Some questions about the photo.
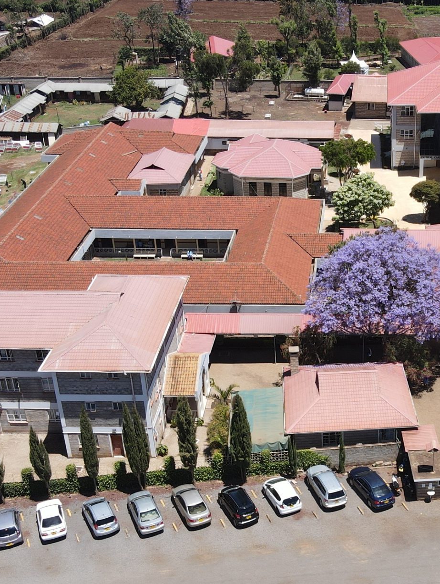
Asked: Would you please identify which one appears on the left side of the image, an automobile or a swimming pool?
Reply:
automobile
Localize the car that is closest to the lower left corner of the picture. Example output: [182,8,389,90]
[0,503,23,549]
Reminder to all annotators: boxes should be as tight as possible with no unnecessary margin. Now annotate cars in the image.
[81,494,118,537]
[304,462,346,509]
[126,484,165,536]
[262,474,300,516]
[334,465,391,512]
[215,480,258,525]
[173,479,210,528]
[33,494,67,542]
[0,503,23,549]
